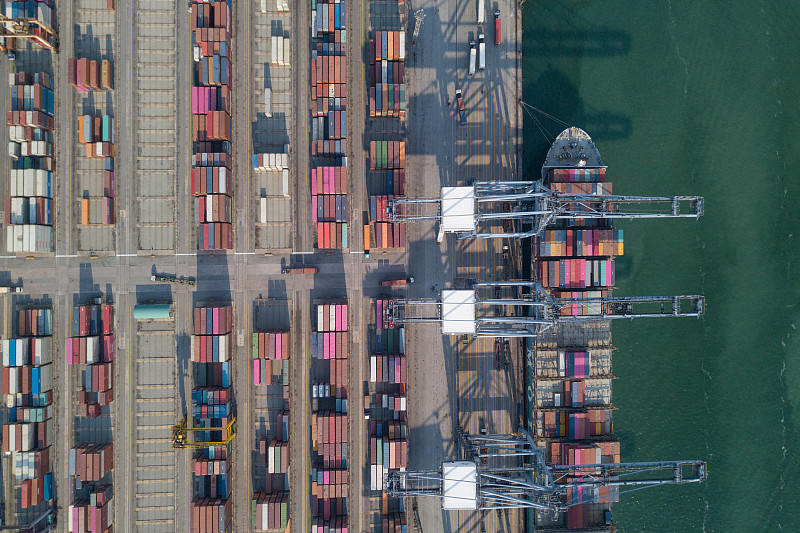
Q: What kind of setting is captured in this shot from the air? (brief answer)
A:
port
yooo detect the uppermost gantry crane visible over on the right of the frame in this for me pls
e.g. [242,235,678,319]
[380,180,707,249]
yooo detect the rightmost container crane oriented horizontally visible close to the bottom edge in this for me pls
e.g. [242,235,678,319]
[382,413,712,515]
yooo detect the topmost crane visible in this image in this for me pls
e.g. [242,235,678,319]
[0,13,61,60]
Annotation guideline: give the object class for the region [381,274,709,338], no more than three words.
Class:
container crane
